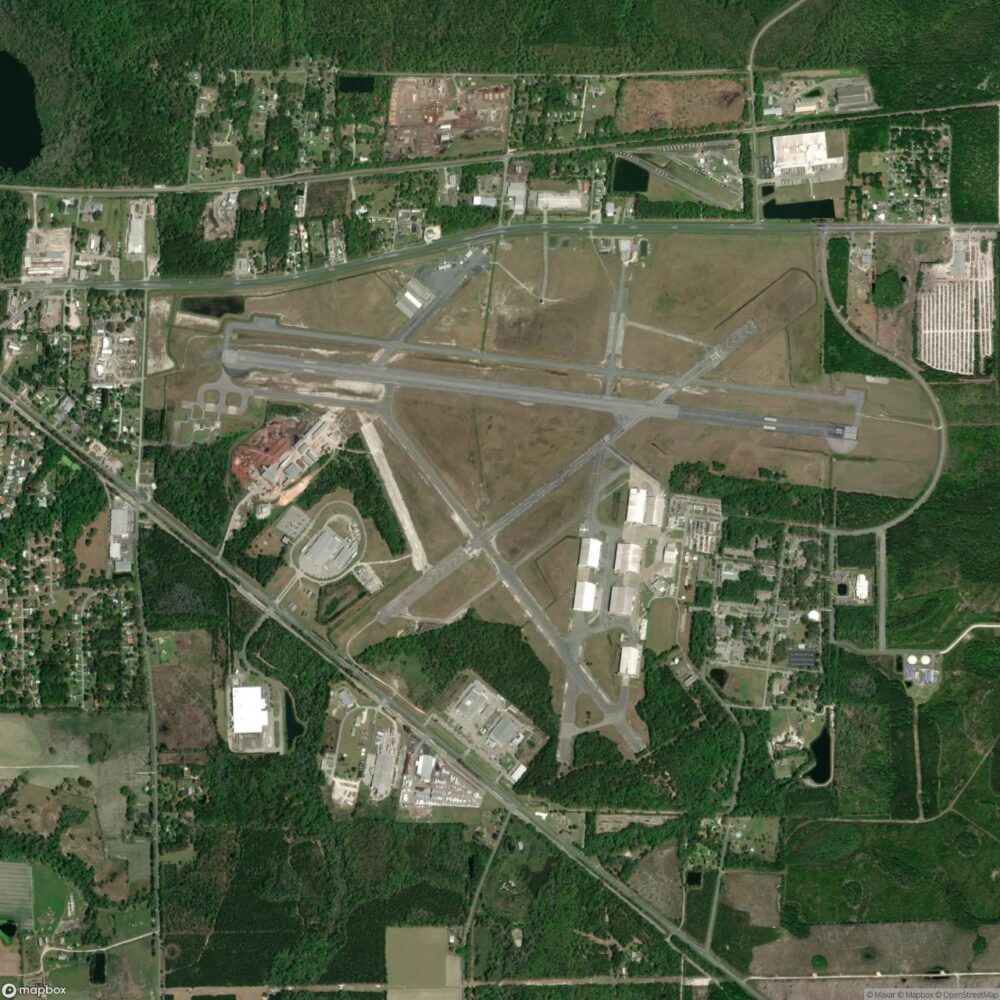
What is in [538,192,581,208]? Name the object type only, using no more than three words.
building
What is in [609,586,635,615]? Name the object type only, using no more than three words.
hangar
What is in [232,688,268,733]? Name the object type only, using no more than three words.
building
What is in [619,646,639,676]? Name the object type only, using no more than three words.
hangar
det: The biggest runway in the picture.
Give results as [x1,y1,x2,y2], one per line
[238,356,678,416]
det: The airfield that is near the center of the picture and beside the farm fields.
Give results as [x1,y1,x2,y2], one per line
[147,234,940,769]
